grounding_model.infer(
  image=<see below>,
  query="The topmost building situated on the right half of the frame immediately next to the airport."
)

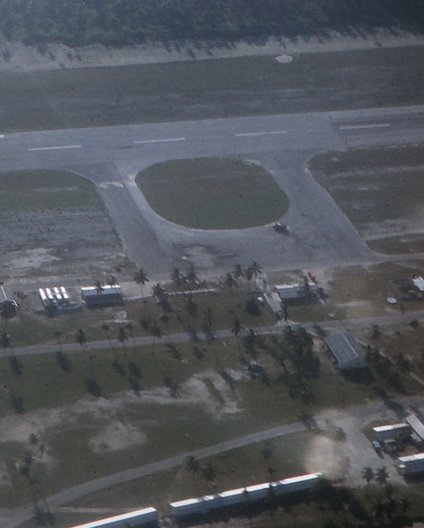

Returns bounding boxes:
[271,282,322,306]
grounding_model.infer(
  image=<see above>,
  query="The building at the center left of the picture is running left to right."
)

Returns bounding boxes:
[78,285,125,305]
